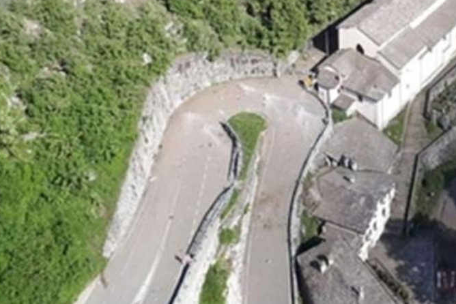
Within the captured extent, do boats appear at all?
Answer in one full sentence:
No, no boat can be seen from above.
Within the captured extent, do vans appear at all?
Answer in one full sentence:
No, no van is visible in the view.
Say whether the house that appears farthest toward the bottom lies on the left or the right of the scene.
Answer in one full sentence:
The house that appears farthest toward the bottom sits on the right side.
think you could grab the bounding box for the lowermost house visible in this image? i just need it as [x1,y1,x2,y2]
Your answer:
[297,225,400,304]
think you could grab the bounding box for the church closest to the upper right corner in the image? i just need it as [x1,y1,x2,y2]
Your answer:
[319,0,456,131]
